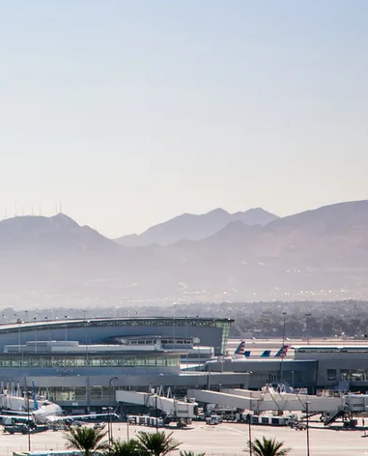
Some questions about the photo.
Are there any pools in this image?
No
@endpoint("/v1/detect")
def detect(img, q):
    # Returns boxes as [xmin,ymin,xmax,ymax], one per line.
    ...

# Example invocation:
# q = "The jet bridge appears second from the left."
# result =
[109,379,196,422]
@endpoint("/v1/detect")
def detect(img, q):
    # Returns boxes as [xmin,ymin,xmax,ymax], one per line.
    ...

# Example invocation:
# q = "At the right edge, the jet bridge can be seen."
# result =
[247,386,368,427]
